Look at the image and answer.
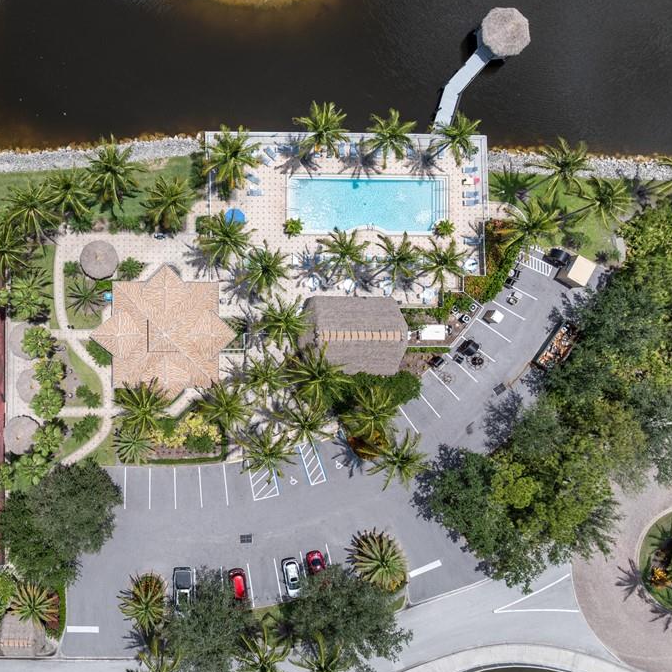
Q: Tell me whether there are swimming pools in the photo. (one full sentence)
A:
Yes, a swimming pool can be made out from above.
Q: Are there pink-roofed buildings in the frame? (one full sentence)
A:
No, the frame has no pink-roofed building in it.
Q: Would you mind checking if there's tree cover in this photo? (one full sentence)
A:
Yes, there's tree cover in this view.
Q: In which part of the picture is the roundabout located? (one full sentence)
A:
Look in the bottom right portion of the view to spot the roundabout.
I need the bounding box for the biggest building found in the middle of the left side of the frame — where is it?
[90,264,237,402]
